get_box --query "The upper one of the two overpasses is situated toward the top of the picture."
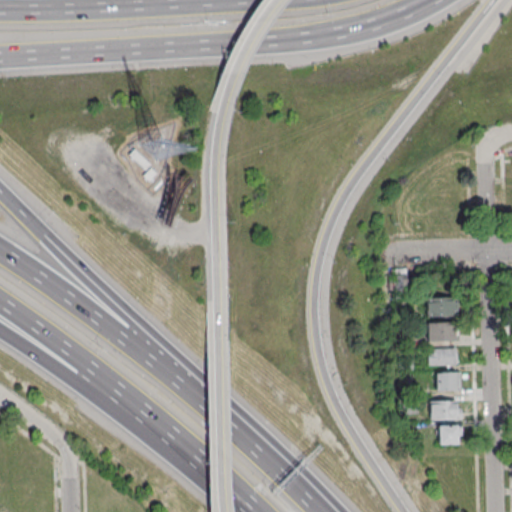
[211,0,292,111]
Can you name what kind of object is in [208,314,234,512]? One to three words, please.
overpass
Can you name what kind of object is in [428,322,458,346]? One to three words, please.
house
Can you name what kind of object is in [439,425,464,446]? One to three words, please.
house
